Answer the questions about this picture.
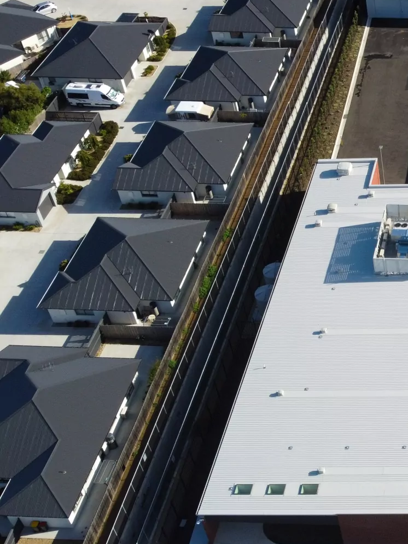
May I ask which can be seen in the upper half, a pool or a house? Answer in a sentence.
The feature located in the upper half is a house.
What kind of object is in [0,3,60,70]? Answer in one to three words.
house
